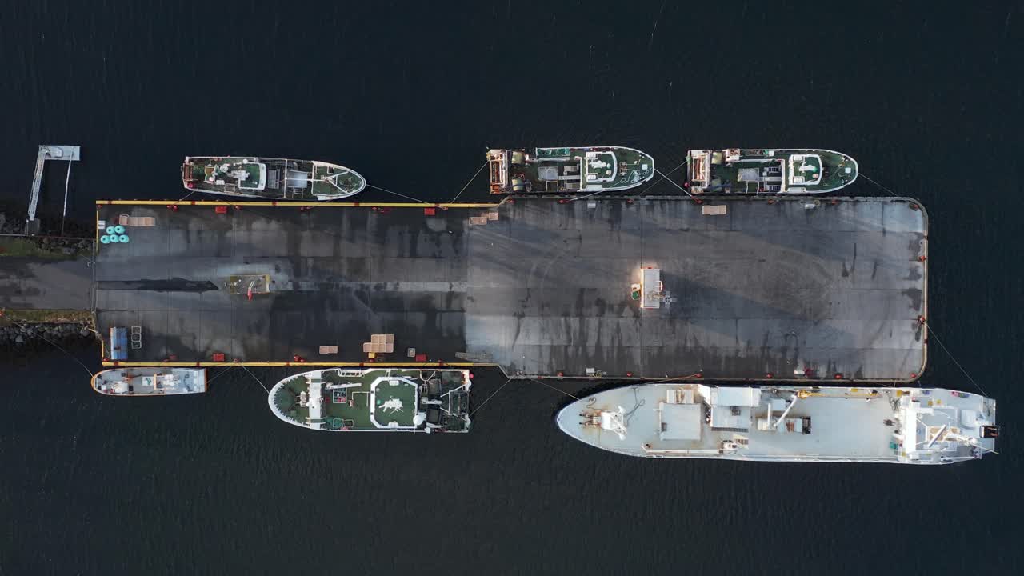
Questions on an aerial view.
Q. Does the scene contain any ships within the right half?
Yes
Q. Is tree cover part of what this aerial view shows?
No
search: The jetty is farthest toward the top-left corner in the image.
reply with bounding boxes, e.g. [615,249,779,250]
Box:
[39,145,81,160]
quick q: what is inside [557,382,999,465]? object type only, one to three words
ship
